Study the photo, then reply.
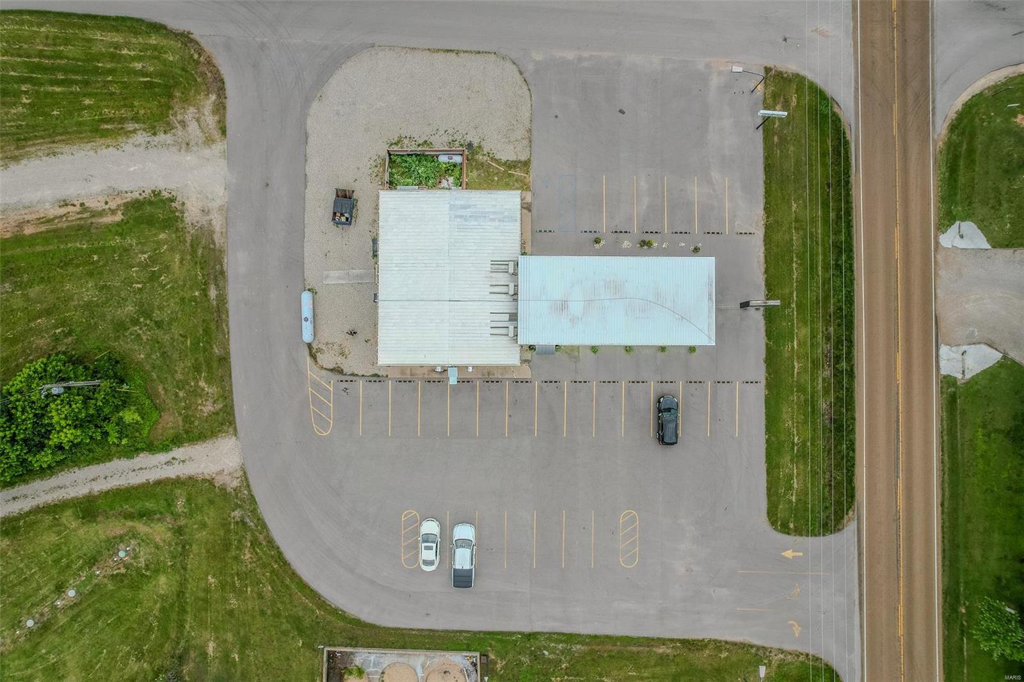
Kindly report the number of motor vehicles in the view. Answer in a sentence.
My tally gives 3 motor vehicles in this view.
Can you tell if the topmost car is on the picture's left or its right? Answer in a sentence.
The topmost car sits on the right side.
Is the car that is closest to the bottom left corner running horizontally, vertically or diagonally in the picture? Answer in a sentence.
From this overhead view, the car that is closest to the bottom left corner appears to run vertically.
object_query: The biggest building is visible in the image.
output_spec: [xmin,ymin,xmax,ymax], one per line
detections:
[376,187,522,366]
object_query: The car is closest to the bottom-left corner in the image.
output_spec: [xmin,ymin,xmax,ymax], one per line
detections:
[418,520,440,572]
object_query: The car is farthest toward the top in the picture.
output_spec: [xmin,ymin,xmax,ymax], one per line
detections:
[658,395,681,446]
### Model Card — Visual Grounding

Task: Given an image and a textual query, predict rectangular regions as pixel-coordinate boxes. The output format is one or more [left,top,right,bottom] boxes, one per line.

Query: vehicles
[658,395,681,446]
[450,525,476,591]
[418,520,440,572]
